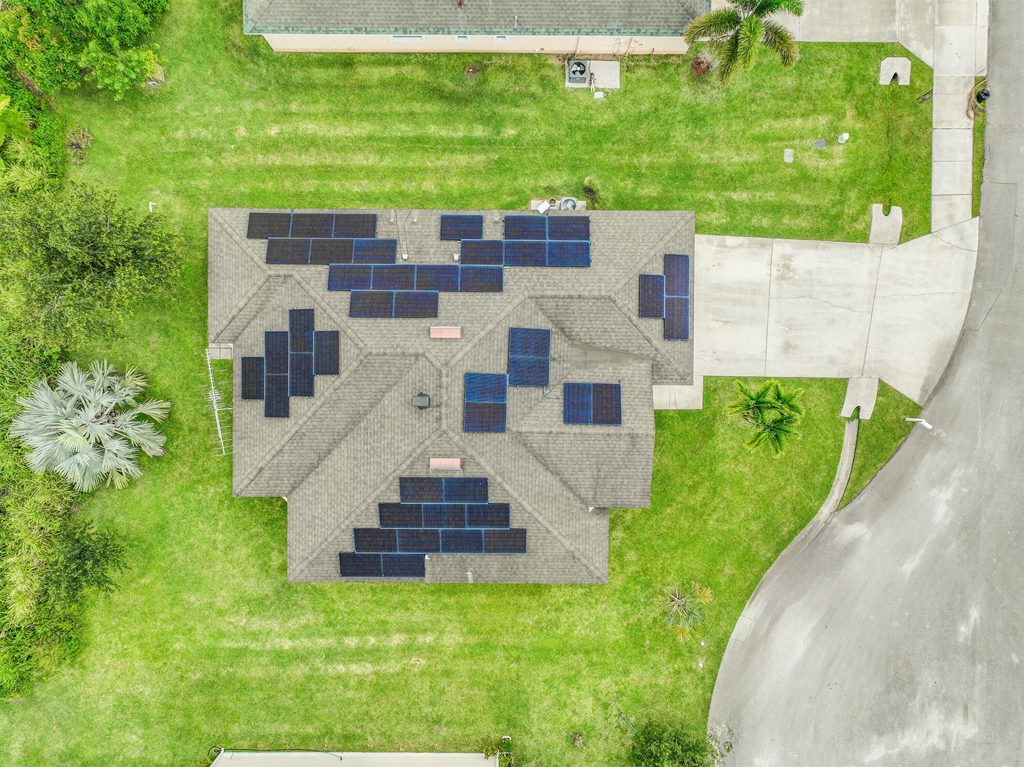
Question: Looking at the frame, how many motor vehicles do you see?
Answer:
none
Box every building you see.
[208,209,695,583]
[243,0,711,59]
[203,744,500,767]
